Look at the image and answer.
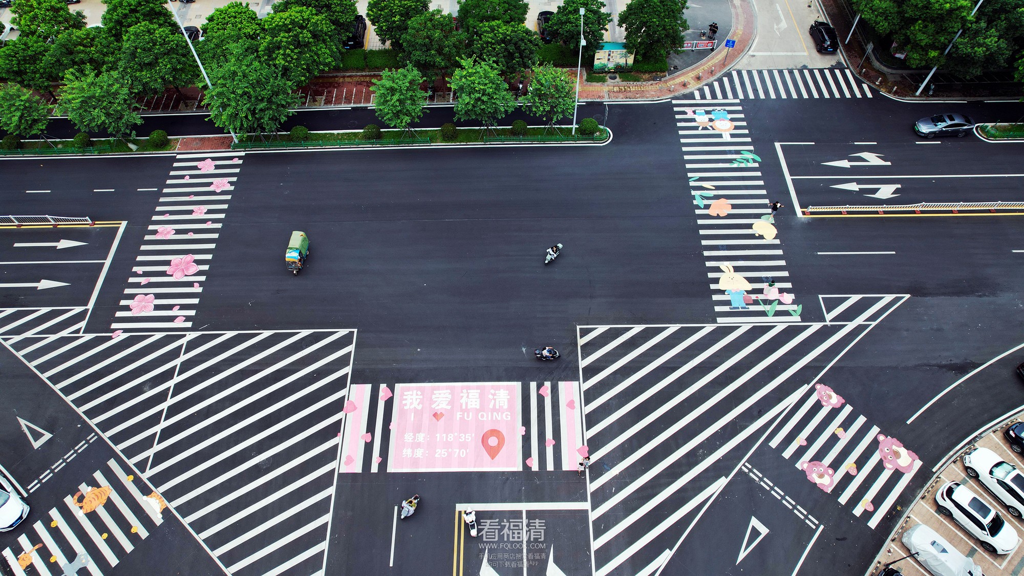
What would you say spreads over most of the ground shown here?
paved ground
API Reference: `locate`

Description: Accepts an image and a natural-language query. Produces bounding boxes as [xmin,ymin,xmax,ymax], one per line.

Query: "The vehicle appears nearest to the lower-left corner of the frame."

[0,476,24,527]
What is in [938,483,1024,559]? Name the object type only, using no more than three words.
car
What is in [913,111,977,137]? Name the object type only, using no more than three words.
car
